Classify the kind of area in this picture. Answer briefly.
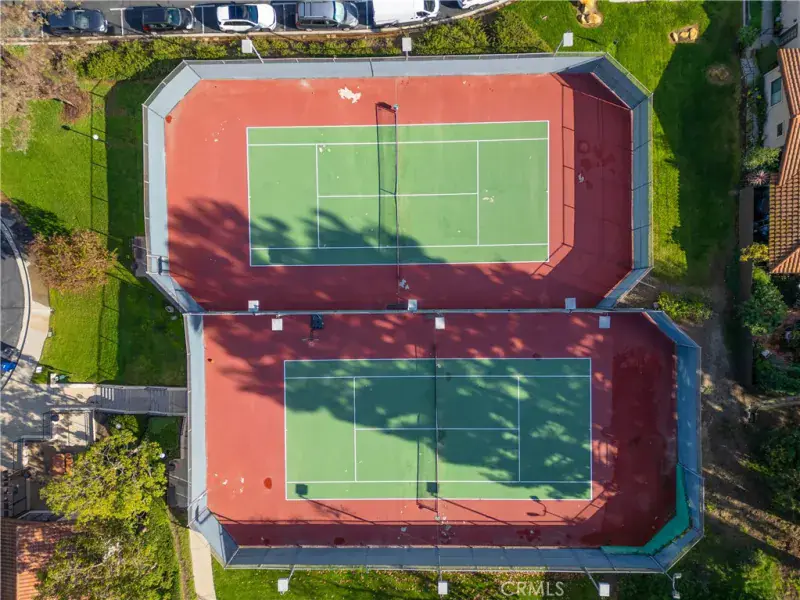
sports ground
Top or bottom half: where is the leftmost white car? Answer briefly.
top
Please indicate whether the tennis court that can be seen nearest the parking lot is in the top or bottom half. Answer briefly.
top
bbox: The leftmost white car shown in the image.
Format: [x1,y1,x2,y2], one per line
[216,2,277,35]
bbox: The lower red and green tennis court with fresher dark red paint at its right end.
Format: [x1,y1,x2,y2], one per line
[205,310,677,548]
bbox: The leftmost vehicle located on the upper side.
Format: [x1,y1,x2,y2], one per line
[48,5,112,37]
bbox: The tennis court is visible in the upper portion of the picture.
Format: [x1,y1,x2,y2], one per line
[164,73,633,311]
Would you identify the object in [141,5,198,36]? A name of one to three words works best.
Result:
car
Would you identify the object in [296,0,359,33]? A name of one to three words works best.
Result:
car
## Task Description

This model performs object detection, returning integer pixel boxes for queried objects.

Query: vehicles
[216,2,277,35]
[459,0,497,11]
[373,0,439,24]
[48,5,112,37]
[141,5,198,36]
[296,0,359,33]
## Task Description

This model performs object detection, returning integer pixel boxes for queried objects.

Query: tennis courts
[164,73,633,311]
[205,310,677,548]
